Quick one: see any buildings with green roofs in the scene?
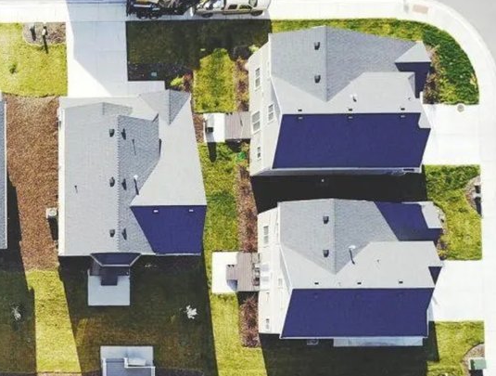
No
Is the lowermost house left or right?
right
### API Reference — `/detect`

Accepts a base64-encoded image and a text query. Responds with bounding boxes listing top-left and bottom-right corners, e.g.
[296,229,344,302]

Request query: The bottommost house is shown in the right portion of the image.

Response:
[256,198,437,339]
